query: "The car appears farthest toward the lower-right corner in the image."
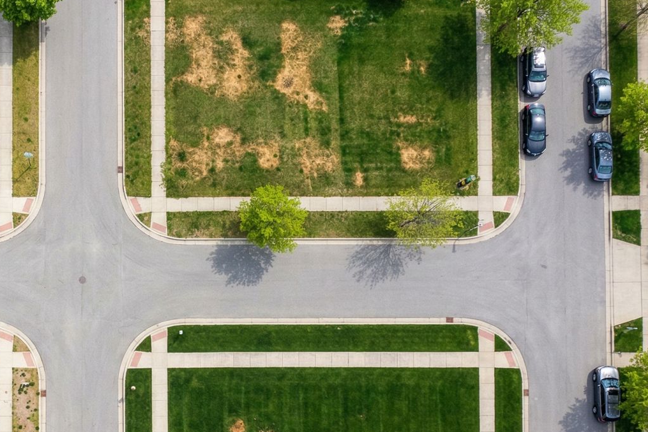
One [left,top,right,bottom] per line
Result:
[588,366,621,421]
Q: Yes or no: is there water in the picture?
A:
No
